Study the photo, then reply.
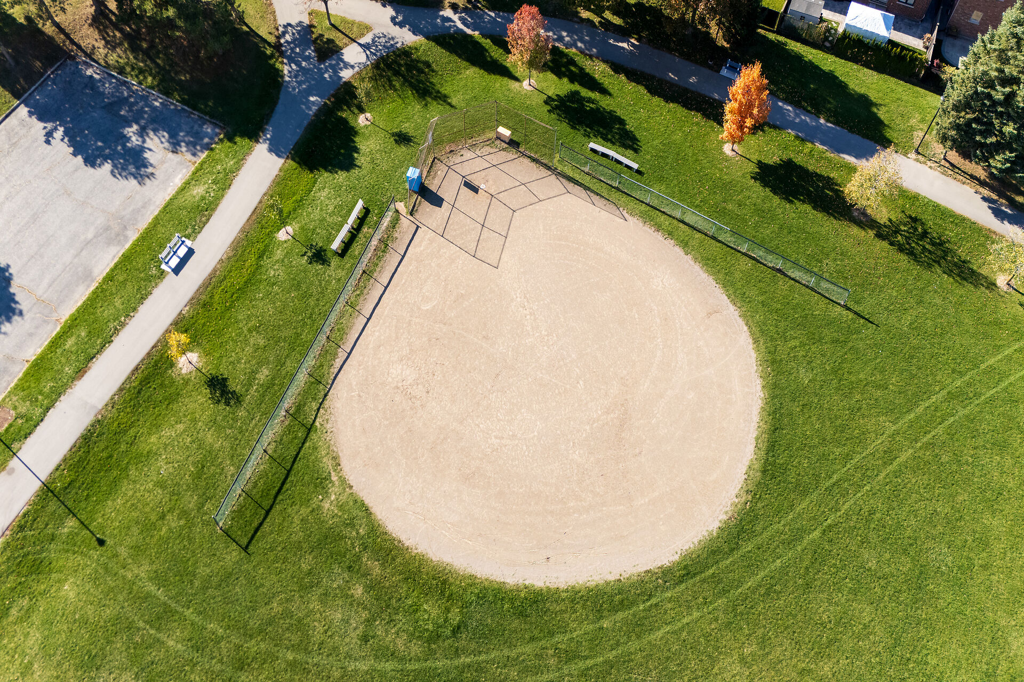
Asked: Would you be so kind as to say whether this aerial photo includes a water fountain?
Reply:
No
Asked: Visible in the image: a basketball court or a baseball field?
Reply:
baseball field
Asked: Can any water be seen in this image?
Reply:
No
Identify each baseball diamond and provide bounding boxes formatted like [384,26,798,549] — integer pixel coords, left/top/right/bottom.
[325,143,764,588]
